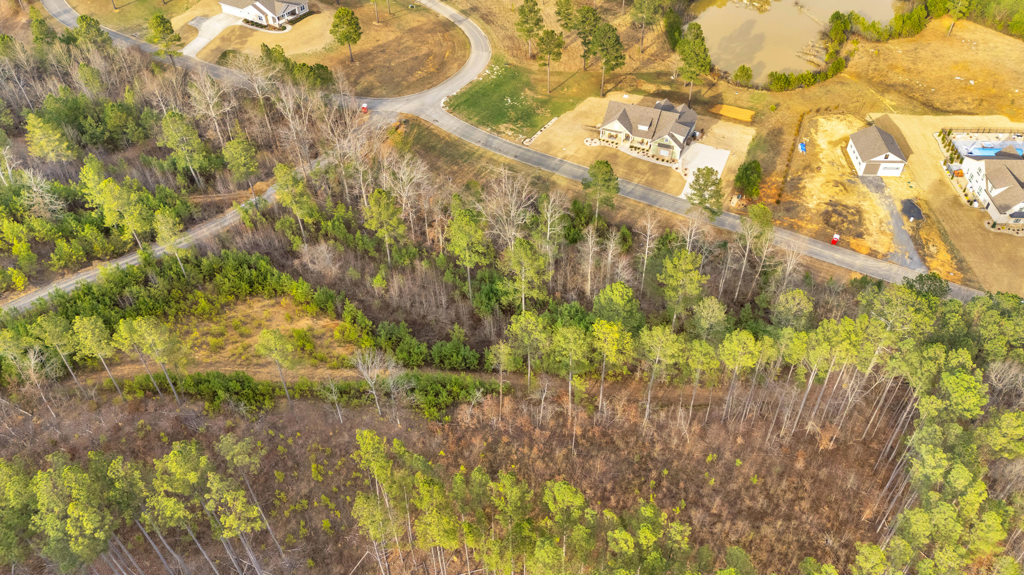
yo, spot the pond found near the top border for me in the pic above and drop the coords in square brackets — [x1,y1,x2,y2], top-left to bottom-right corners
[685,0,905,83]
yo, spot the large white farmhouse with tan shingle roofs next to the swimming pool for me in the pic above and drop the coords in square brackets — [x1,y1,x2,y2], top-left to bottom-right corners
[956,144,1024,224]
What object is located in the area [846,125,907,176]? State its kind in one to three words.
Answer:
building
